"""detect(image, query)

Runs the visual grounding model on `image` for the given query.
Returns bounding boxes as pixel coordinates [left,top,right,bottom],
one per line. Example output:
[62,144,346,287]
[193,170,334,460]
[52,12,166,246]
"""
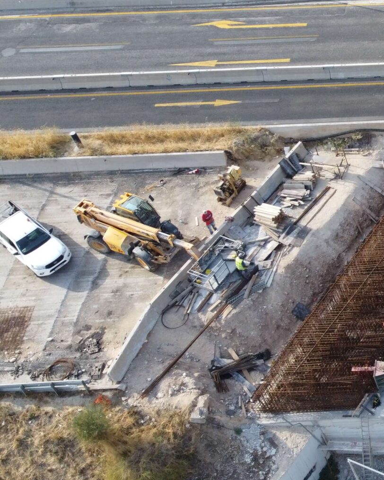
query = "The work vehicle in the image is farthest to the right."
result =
[66,193,213,275]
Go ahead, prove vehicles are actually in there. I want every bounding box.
[66,193,213,275]
[0,202,69,280]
